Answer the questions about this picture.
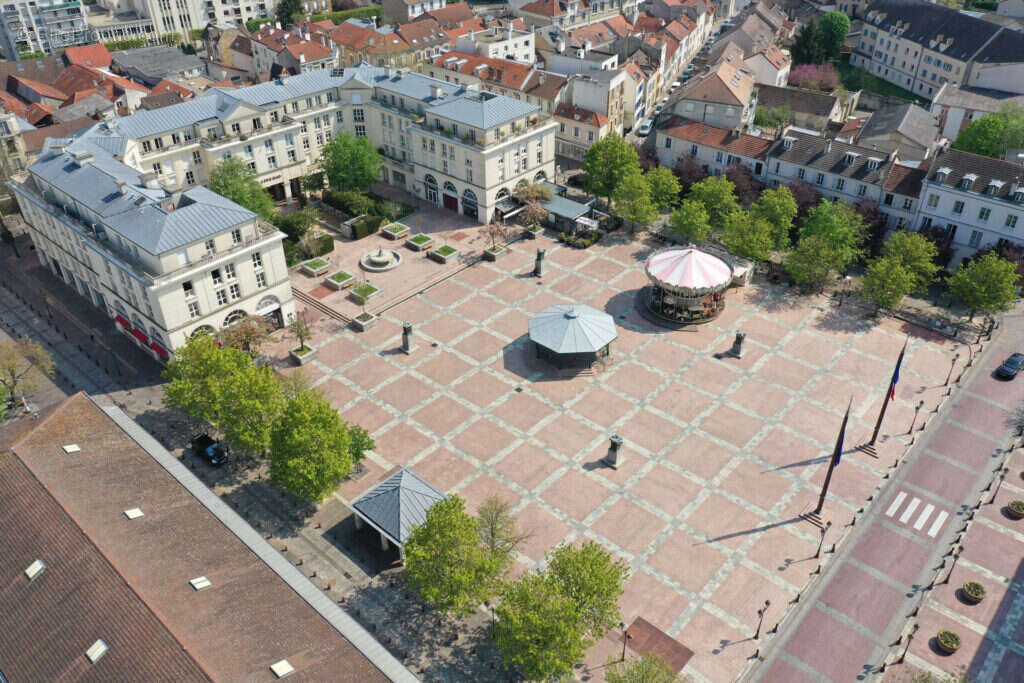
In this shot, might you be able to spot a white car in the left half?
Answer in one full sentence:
No, no white car is visible in the left half.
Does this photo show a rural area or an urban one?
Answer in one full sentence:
From above, the setting appears urban.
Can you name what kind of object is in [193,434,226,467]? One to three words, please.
car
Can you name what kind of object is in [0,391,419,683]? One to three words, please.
building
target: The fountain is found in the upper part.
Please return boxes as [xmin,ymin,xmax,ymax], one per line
[361,249,403,272]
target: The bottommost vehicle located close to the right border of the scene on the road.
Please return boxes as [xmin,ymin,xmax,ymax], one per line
[997,354,1024,383]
